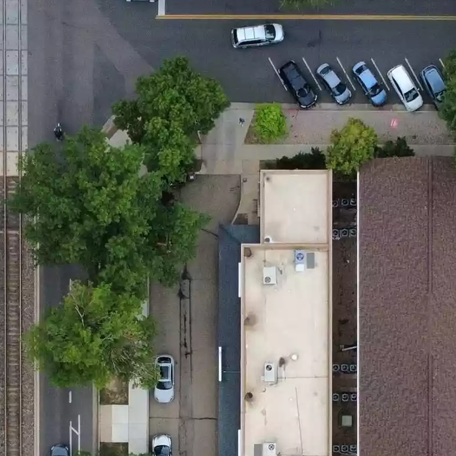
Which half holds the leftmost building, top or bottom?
bottom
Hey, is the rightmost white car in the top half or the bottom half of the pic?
top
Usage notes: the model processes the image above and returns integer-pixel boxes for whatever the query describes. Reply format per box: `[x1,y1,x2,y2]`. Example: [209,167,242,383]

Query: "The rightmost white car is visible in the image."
[385,61,422,115]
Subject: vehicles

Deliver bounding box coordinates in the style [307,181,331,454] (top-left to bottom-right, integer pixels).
[350,60,386,110]
[151,435,174,456]
[154,354,176,403]
[385,61,422,115]
[230,18,284,52]
[315,60,351,109]
[51,443,71,456]
[279,57,317,113]
[418,61,455,116]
